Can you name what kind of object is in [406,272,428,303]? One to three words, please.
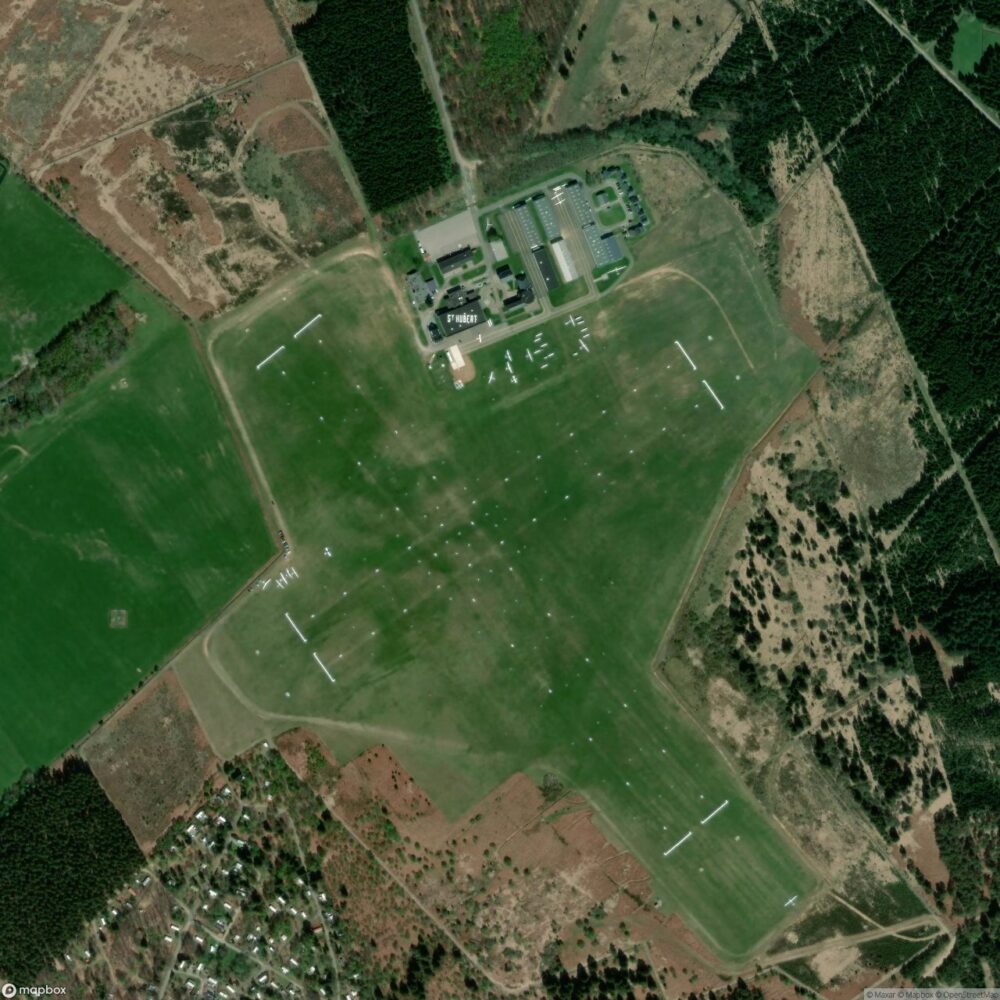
building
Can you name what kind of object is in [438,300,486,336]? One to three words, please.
building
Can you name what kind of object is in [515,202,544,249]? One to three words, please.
hangar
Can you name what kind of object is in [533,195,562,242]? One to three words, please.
hangar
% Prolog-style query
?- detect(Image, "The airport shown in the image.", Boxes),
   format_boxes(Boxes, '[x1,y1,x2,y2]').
[174,145,824,970]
